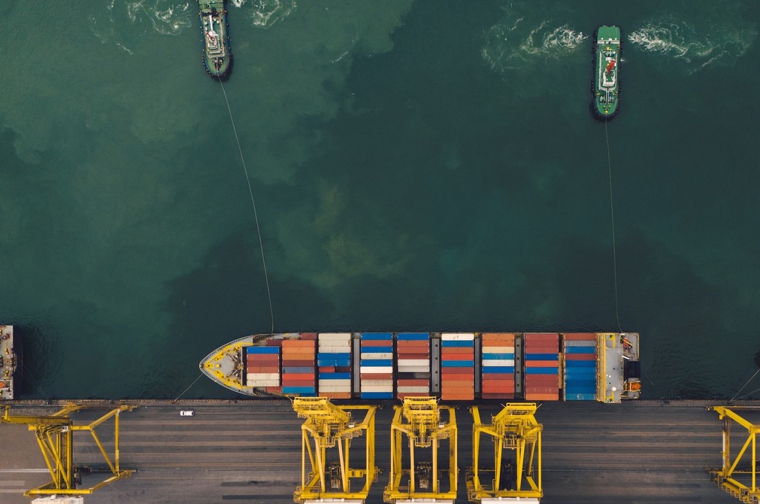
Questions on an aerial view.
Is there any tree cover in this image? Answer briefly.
No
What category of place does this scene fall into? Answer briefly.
port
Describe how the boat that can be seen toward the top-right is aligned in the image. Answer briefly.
vertically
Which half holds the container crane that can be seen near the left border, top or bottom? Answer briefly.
bottom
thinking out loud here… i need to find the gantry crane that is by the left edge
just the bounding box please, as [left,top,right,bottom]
[0,405,133,504]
